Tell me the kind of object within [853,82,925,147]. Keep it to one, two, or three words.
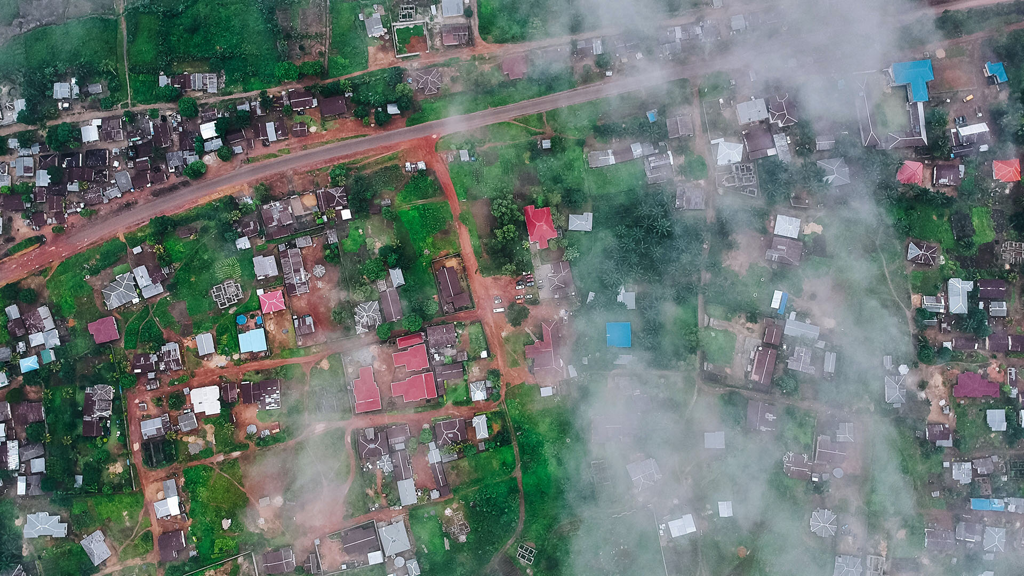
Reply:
building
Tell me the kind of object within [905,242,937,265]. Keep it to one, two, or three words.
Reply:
house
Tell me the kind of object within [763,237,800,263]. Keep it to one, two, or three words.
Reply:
house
